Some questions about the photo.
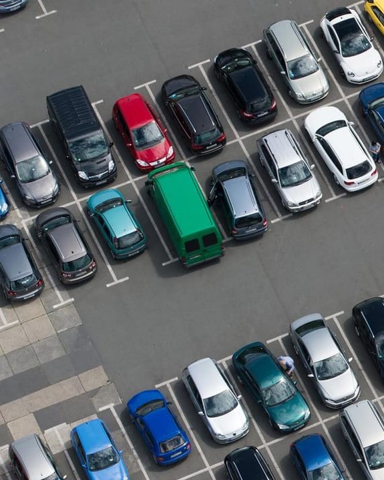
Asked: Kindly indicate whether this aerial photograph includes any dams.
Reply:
No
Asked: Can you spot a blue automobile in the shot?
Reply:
Yes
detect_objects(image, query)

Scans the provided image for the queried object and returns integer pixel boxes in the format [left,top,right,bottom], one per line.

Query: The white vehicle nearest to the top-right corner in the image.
[321,5,383,86]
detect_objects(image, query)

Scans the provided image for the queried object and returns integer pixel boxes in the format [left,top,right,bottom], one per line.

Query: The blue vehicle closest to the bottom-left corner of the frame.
[72,418,127,480]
